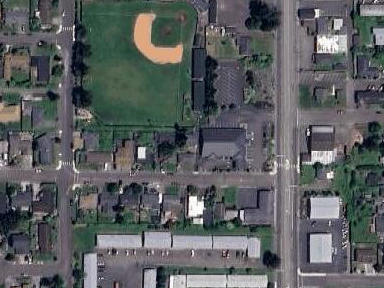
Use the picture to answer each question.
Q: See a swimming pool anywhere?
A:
No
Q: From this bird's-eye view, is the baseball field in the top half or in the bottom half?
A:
top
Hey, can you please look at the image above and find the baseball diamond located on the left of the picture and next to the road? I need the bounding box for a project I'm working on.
[82,1,197,126]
